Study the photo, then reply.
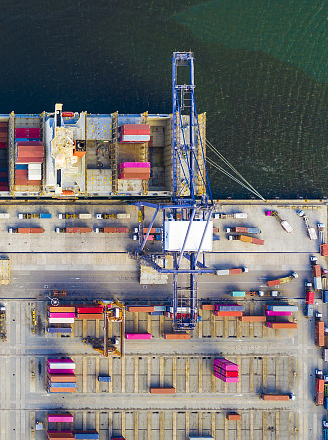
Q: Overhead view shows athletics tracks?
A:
No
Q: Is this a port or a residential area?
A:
port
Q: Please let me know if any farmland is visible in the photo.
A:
No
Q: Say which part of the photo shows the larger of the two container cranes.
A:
center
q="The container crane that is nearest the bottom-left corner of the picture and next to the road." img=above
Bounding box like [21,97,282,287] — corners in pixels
[91,299,127,359]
